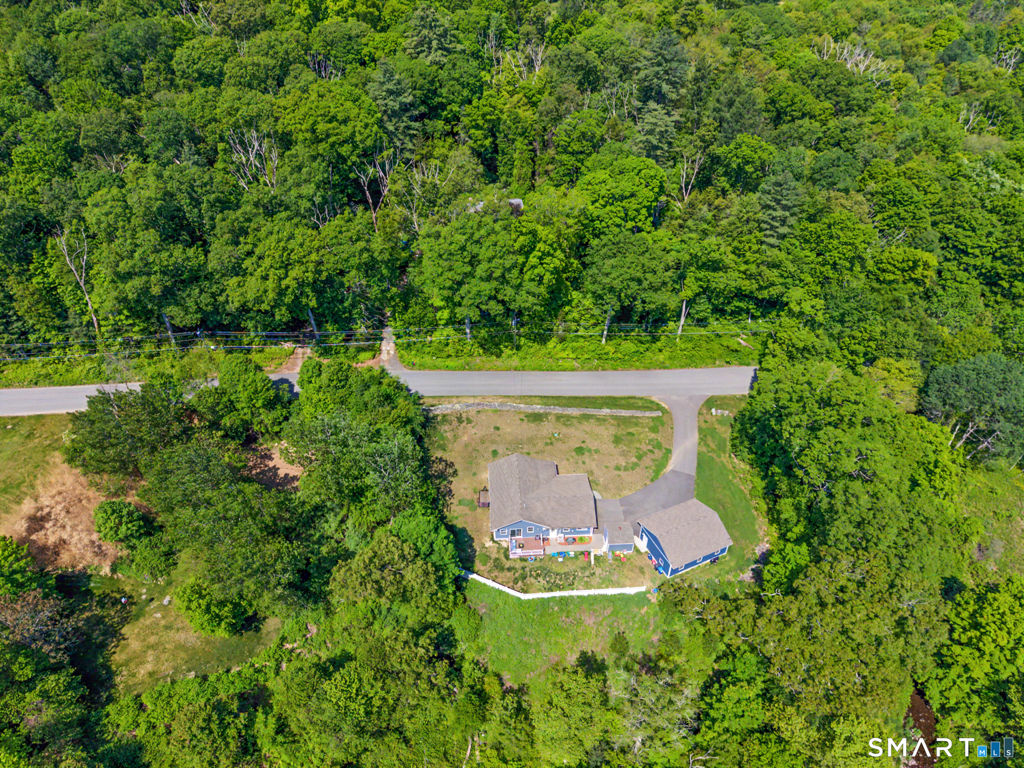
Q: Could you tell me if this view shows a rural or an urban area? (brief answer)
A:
rural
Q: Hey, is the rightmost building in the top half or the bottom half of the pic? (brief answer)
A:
bottom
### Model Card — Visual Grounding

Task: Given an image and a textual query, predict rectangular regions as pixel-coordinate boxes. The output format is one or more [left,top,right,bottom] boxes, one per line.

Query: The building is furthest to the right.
[637,498,732,578]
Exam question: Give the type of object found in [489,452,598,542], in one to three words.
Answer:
house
